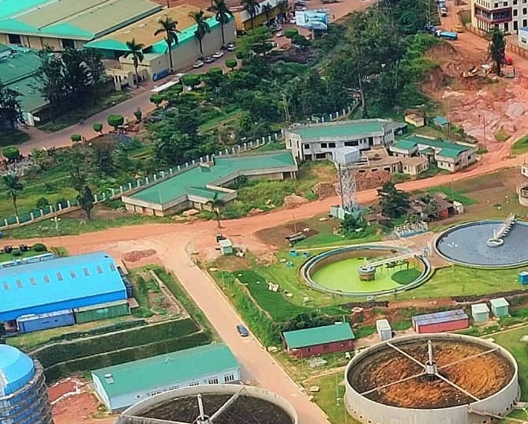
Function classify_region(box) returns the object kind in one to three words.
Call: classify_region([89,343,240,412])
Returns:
building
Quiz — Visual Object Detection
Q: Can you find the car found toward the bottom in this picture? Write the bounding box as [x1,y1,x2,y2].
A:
[235,322,248,335]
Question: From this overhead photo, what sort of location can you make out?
industrial area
